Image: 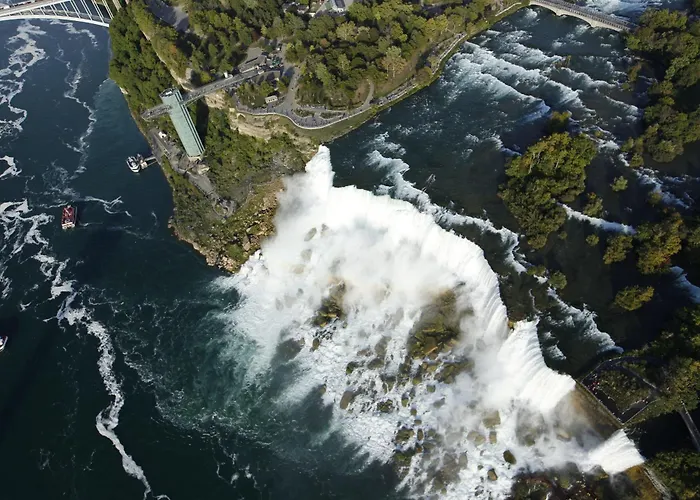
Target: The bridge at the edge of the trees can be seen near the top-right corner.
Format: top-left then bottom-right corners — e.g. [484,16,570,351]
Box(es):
[516,0,654,44]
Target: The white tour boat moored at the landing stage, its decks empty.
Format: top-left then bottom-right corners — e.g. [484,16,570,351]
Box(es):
[124,155,141,173]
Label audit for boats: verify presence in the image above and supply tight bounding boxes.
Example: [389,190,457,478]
[61,205,77,228]
[0,333,11,350]
[124,155,141,173]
